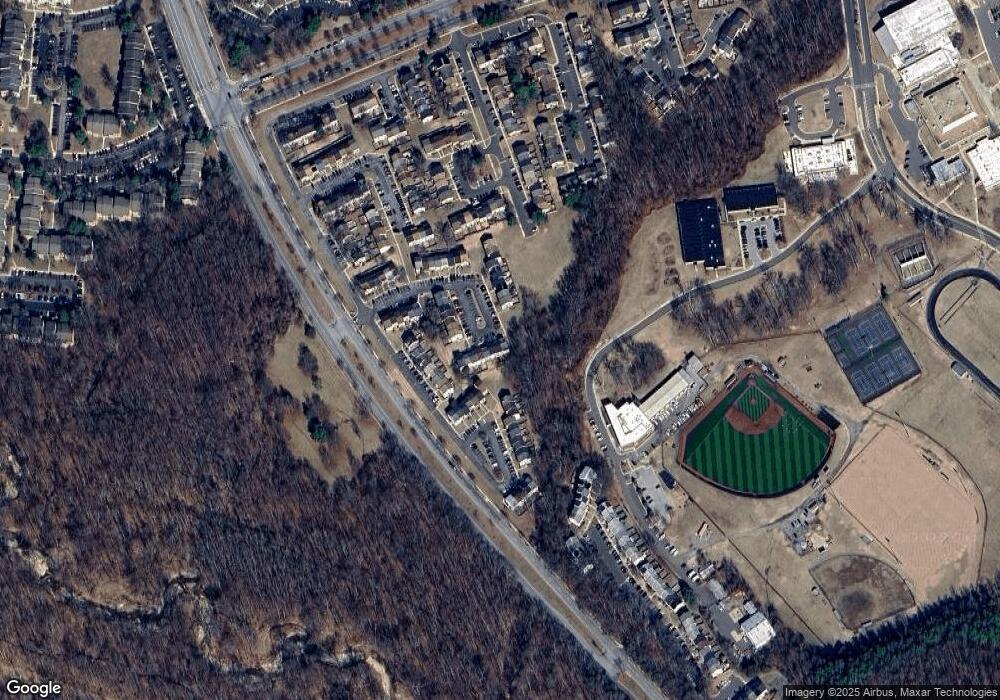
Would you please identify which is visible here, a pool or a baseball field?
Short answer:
baseball field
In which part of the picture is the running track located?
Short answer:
right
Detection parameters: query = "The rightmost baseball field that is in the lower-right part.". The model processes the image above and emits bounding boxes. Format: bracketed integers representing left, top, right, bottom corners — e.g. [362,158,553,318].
[828,427,990,606]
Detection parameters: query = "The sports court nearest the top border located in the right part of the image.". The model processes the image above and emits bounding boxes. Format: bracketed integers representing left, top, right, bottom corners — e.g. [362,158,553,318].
[895,244,936,287]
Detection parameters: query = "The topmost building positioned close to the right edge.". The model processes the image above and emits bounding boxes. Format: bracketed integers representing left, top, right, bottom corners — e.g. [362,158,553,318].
[873,0,961,89]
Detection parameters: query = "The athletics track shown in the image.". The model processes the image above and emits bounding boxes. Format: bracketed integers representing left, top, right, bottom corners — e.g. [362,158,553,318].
[926,268,1000,398]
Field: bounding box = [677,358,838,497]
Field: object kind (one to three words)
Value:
baseball field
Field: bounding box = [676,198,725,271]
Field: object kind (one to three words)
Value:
building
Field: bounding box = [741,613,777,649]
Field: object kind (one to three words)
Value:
barn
